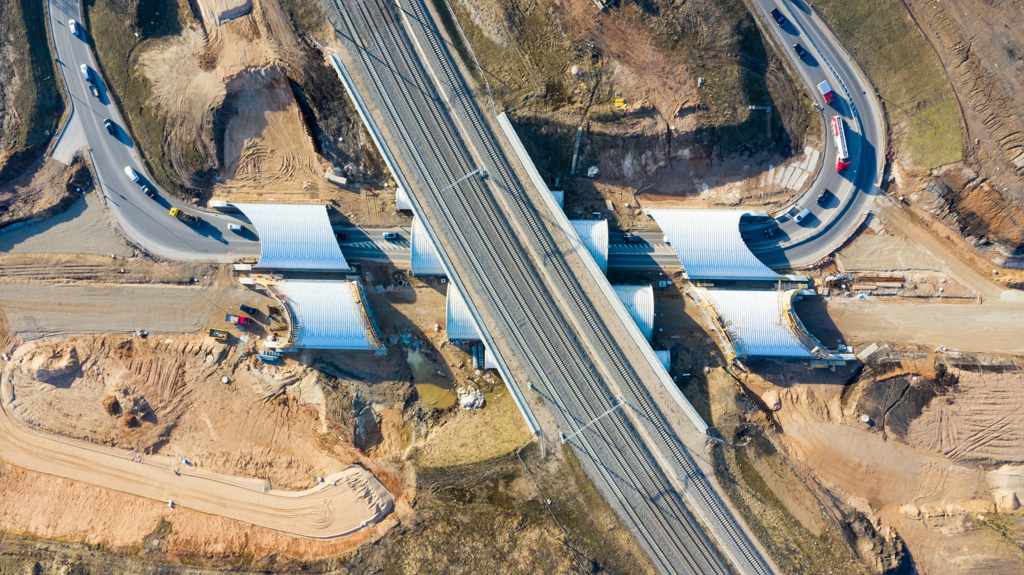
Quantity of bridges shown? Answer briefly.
4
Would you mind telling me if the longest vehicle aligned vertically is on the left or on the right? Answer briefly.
right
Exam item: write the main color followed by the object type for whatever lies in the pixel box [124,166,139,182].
white car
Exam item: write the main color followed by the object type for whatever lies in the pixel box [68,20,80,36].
white vehicle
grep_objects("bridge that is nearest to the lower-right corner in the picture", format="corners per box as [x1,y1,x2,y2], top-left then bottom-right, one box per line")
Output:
[706,289,818,359]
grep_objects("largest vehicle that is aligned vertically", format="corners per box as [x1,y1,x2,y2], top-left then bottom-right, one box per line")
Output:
[829,115,849,171]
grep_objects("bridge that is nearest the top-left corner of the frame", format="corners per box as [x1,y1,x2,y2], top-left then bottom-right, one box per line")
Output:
[228,201,355,274]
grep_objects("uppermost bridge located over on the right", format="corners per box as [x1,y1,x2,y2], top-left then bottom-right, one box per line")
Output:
[646,208,791,281]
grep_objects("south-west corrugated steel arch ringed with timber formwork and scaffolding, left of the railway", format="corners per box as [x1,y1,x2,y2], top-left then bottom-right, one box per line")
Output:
[276,278,381,352]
